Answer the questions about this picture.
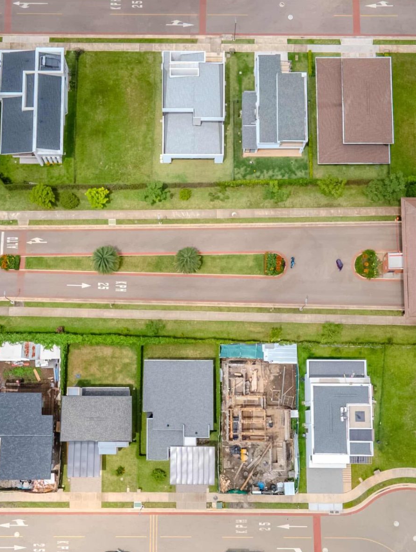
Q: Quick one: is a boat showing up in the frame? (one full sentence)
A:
No, I can see no boat in this picture.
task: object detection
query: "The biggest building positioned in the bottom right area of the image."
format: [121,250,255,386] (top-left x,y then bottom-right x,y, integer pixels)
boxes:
[301,360,373,490]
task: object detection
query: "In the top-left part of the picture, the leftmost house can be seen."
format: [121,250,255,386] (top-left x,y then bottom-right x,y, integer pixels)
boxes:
[0,48,68,167]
